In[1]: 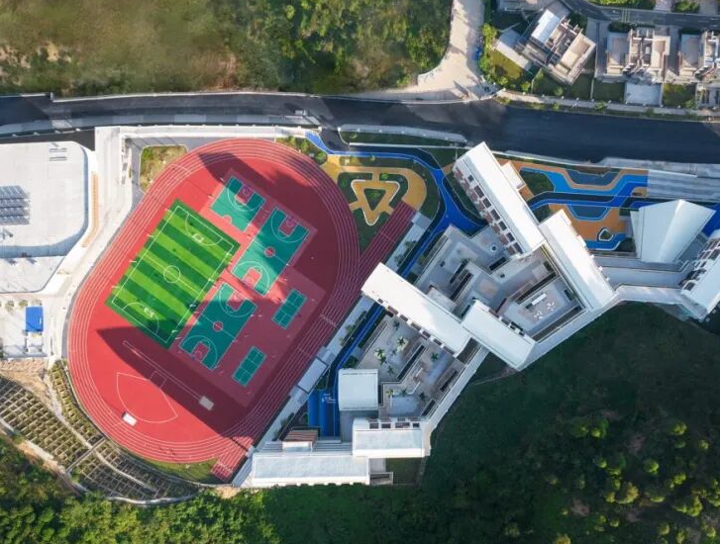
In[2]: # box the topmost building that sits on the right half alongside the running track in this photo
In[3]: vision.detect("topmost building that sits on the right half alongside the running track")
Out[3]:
[451,141,545,254]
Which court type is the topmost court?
basketball court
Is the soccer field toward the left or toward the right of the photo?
left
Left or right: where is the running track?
left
